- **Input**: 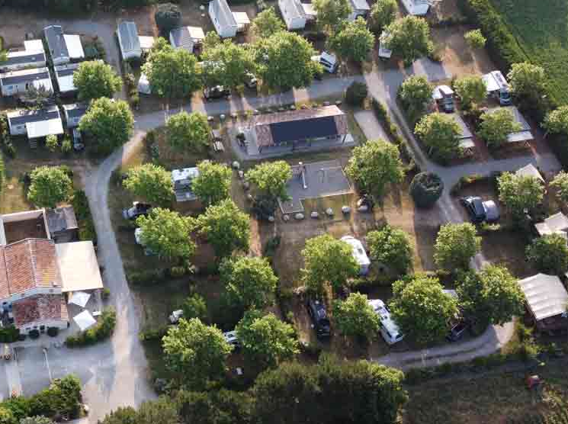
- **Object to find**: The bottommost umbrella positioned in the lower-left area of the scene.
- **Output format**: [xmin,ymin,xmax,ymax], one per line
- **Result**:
[69,308,100,335]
